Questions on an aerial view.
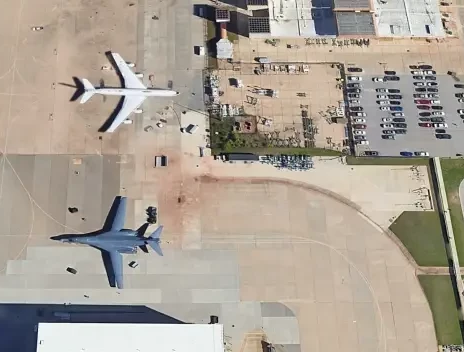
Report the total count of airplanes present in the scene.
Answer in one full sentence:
I count 2 airplanes.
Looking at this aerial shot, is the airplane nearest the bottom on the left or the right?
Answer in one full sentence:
The airplane nearest the bottom sits on the left side.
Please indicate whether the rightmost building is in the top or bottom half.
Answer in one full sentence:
It is in the top half that the rightmost building appears.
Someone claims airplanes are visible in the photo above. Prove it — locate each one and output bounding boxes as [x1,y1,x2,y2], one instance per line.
[59,196,164,289]
[80,53,179,131]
